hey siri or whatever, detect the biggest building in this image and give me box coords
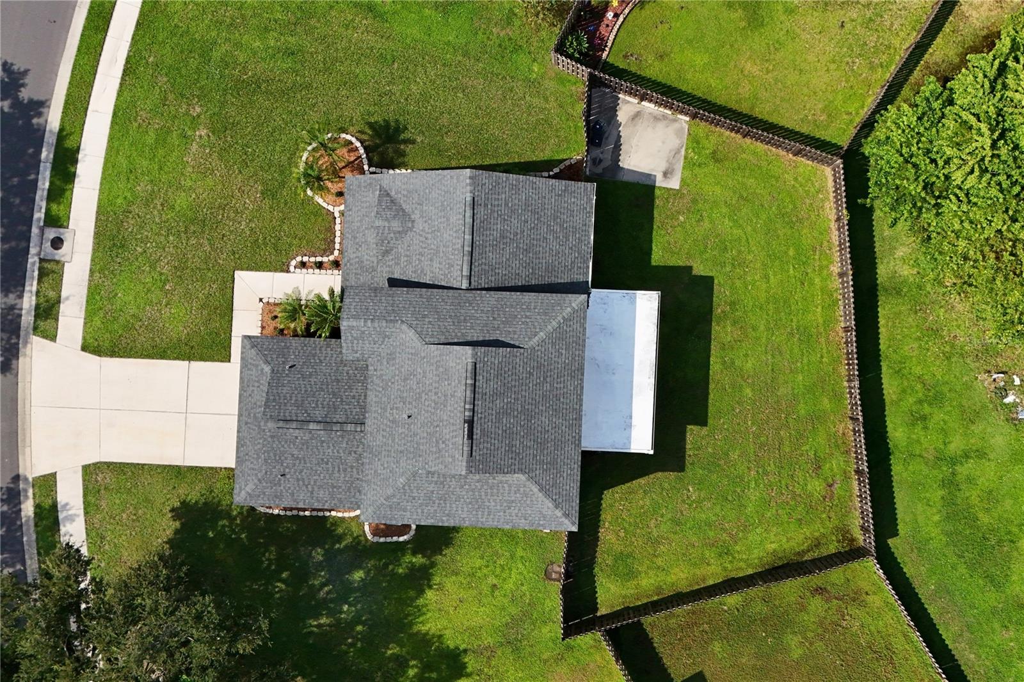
[233,168,597,532]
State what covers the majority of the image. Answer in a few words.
grass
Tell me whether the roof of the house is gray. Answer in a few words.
Yes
